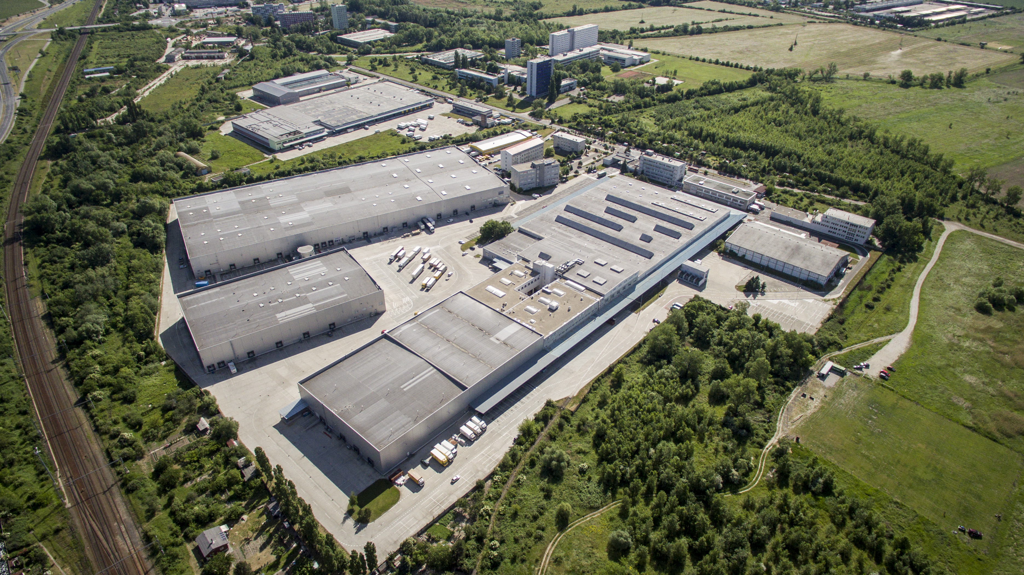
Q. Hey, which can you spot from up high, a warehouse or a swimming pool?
warehouse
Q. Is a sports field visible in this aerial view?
Yes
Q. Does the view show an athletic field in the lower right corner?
Yes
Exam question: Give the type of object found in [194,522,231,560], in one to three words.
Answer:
house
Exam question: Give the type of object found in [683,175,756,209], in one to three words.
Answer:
building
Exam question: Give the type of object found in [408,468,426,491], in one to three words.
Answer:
vehicle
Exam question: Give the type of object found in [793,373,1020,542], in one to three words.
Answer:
sports field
